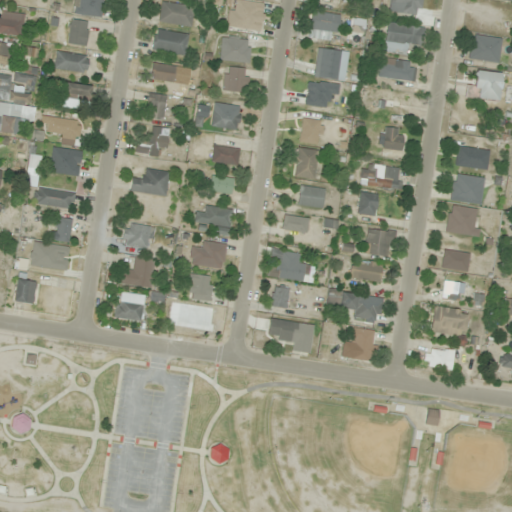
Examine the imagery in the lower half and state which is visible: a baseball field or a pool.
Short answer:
baseball field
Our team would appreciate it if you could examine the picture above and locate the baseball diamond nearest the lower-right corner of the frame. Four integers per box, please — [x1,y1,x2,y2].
[432,424,512,512]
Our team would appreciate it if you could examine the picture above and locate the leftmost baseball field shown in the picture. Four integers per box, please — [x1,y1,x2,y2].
[257,396,416,512]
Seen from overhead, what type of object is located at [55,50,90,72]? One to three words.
house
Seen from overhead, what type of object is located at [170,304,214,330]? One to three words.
building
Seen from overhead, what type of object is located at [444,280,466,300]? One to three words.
house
